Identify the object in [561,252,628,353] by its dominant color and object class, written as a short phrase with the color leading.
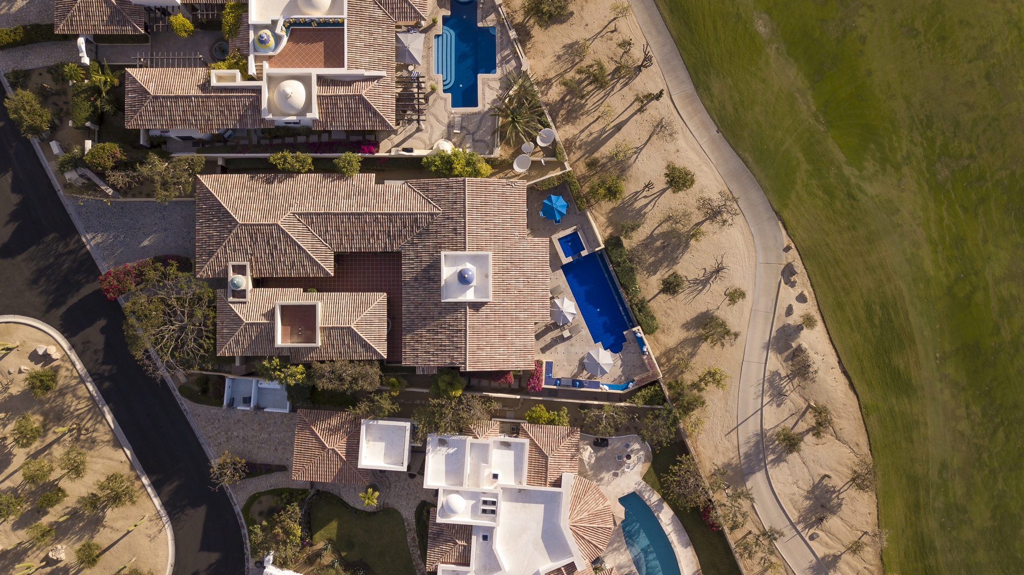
blue swimming pool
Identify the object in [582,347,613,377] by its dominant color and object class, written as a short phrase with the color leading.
white umbrella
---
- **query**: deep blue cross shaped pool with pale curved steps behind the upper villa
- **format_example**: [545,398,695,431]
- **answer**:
[429,0,500,112]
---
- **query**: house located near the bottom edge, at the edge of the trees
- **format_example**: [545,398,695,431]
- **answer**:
[291,409,616,575]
